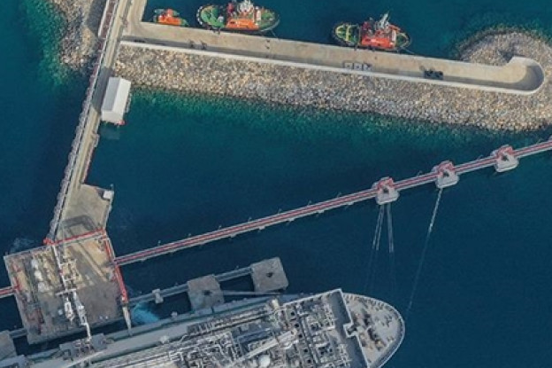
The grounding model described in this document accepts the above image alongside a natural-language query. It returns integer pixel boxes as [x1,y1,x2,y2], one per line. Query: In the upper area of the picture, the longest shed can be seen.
[101,76,132,131]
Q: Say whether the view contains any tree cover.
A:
No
